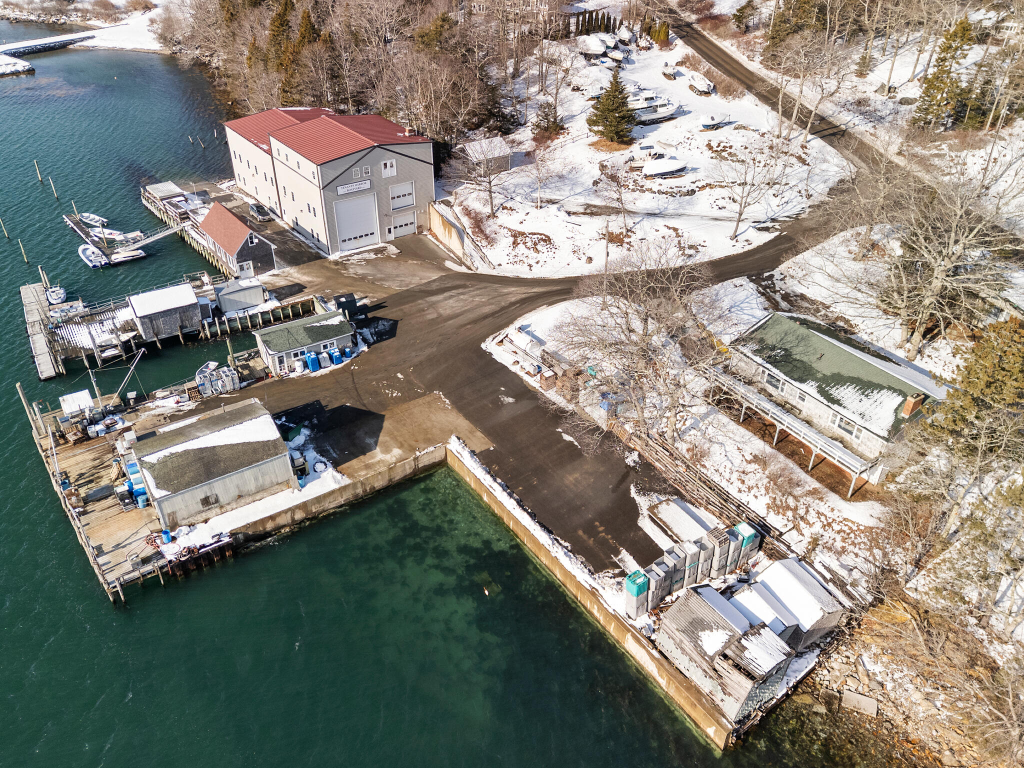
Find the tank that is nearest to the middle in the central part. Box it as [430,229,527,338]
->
[503,326,539,359]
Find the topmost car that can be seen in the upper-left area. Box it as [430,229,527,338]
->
[247,197,272,218]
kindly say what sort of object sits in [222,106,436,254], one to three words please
shed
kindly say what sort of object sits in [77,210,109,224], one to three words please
boat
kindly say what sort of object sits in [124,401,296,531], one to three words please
shed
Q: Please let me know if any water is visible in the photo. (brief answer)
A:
Yes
